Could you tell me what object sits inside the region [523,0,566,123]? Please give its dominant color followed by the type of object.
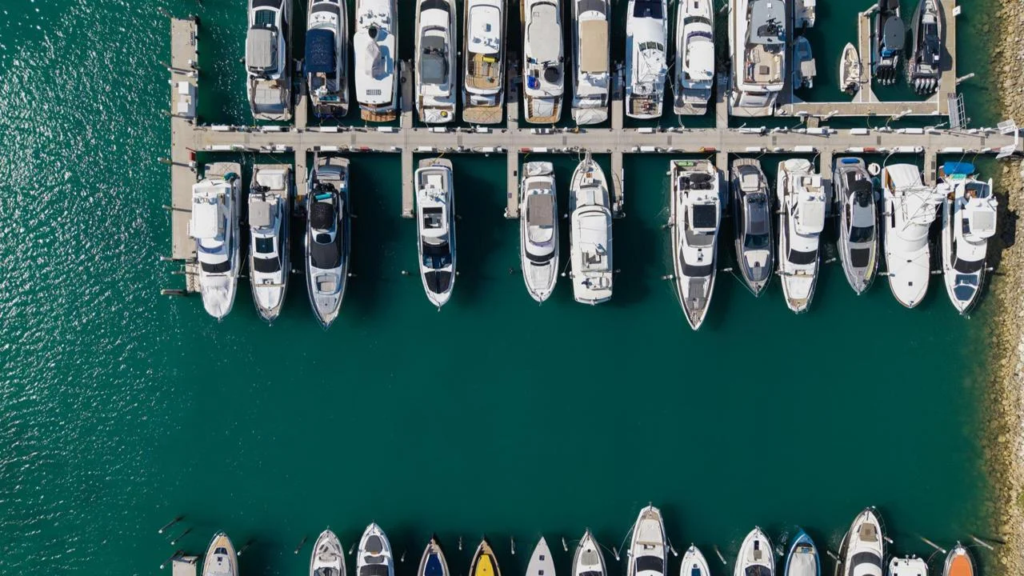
white boat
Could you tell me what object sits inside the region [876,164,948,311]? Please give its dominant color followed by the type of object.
white boat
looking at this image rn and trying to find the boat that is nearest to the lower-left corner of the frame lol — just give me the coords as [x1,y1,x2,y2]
[200,533,239,576]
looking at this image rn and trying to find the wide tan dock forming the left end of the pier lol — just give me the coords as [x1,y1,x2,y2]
[171,18,199,261]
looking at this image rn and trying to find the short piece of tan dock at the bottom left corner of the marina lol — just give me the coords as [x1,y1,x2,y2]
[167,549,200,576]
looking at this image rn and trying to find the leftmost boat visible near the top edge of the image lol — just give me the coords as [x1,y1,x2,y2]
[243,0,293,121]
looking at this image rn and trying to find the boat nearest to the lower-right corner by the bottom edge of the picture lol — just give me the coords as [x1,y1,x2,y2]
[938,542,976,576]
